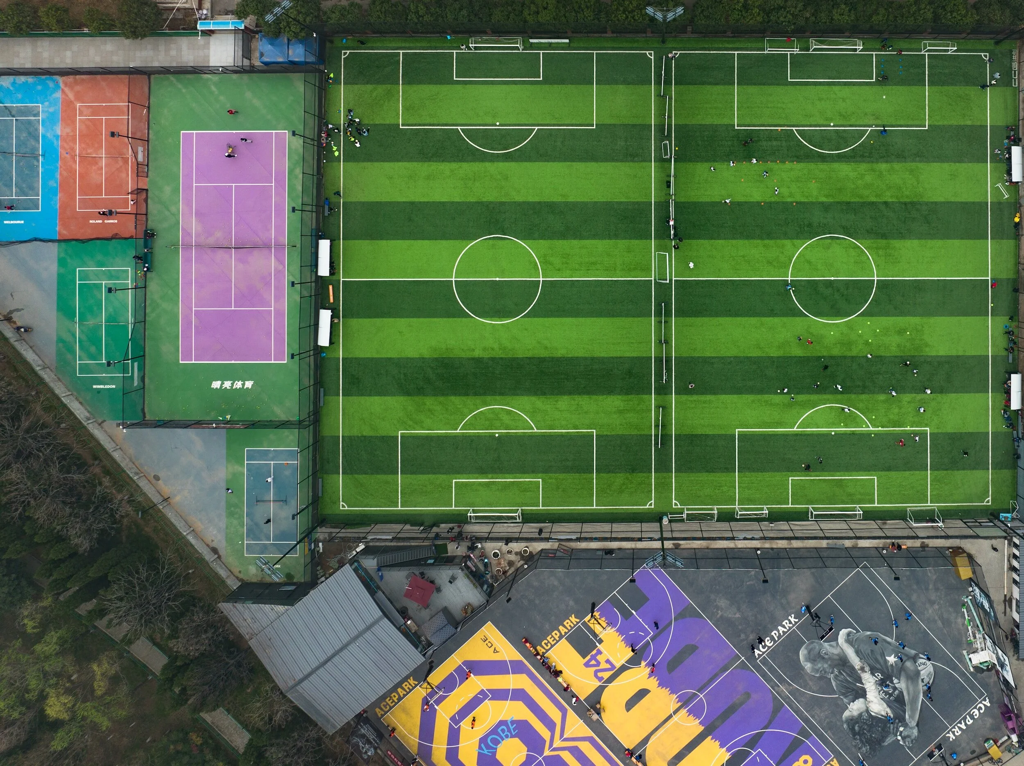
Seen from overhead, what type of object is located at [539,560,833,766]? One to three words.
basketball court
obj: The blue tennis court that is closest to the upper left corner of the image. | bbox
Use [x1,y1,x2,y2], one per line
[0,76,61,240]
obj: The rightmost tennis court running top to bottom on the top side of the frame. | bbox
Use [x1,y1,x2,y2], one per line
[145,74,316,420]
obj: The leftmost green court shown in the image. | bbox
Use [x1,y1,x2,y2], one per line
[56,240,147,421]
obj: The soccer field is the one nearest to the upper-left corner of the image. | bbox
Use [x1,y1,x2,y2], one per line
[319,37,663,523]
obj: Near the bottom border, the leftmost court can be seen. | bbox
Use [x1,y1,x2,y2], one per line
[378,622,620,766]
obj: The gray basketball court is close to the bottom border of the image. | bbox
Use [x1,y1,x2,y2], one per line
[756,563,987,766]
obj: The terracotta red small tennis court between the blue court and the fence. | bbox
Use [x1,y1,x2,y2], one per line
[58,75,150,239]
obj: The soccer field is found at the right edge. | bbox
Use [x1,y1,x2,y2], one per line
[663,38,1018,521]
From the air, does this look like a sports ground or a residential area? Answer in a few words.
sports ground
